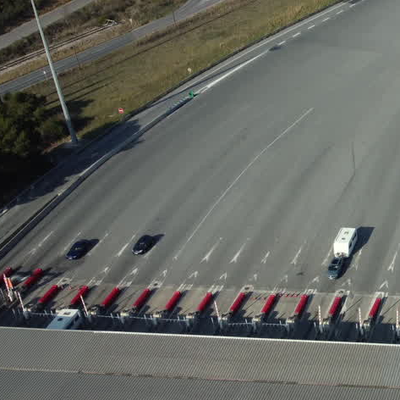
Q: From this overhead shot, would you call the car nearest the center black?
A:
Yes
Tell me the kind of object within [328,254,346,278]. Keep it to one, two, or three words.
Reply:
car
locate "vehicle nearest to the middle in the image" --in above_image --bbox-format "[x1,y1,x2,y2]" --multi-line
[131,236,157,256]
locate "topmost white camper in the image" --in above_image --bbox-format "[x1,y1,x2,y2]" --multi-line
[334,226,357,258]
